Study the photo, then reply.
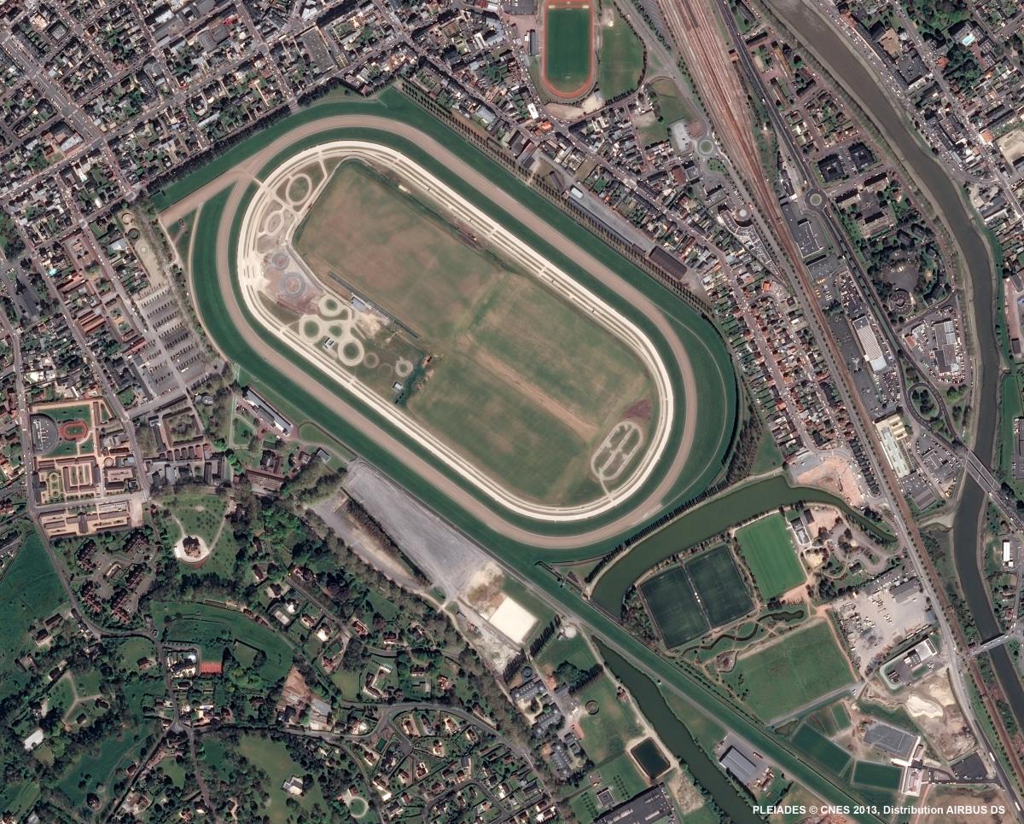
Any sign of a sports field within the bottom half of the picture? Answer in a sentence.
Yes, the scene does show a sports field within the bottom half of the picture.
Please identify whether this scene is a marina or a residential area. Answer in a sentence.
What you see here is a residential area.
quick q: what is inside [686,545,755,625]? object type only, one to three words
soccer field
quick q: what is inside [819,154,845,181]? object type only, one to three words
building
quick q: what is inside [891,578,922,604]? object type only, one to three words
shed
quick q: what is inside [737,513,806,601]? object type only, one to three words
soccer field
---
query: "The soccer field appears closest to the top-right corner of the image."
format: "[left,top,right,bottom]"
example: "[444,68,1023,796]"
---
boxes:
[600,26,645,100]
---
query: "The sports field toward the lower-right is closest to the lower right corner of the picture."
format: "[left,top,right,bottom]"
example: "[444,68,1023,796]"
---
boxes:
[853,761,903,790]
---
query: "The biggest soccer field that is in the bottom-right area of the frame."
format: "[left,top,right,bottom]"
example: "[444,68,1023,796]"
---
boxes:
[738,621,853,721]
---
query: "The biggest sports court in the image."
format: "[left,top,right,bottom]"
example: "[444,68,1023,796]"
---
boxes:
[864,723,917,758]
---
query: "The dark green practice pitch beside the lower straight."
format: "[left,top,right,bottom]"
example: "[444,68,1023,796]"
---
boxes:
[791,724,851,776]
